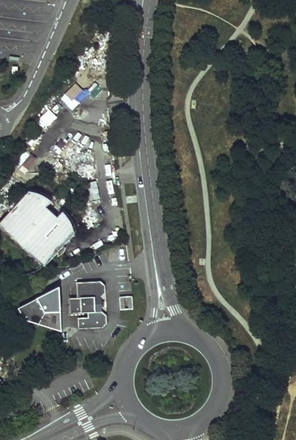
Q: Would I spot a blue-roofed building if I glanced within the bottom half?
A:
No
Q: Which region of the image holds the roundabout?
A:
bottom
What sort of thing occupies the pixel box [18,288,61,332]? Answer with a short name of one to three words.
building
